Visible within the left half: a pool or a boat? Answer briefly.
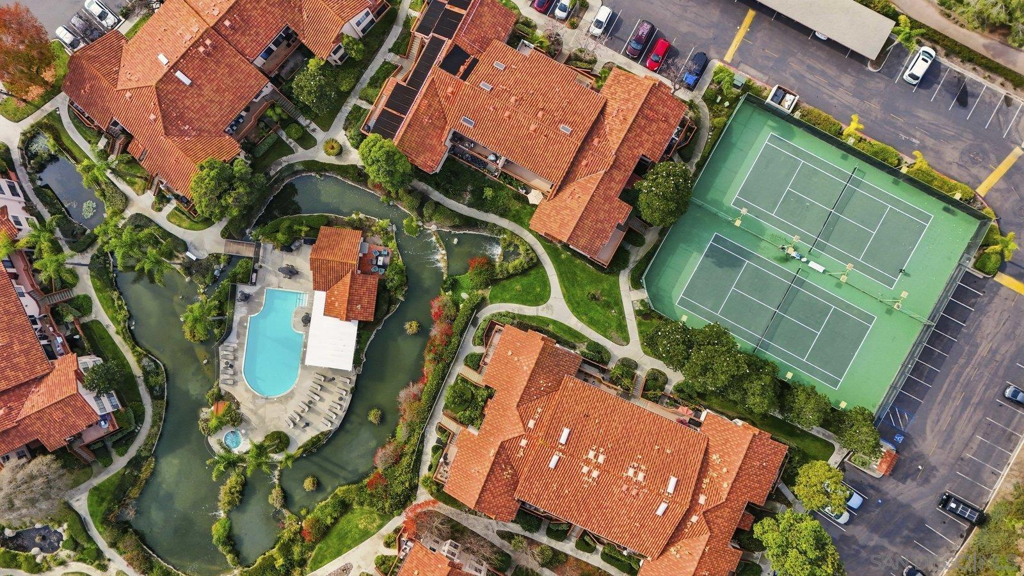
pool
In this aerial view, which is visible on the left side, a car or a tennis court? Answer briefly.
car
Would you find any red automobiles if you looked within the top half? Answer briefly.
Yes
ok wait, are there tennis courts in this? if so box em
[693,101,980,319]
[647,197,925,418]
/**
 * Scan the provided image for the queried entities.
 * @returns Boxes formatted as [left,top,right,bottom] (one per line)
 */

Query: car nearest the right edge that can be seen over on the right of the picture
[1000,384,1024,408]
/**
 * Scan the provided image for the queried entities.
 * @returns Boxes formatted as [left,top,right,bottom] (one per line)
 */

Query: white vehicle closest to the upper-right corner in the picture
[902,47,934,87]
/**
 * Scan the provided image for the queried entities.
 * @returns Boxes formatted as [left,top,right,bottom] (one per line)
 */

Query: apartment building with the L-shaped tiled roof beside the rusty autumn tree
[60,0,375,217]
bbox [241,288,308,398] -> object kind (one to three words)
swimming pool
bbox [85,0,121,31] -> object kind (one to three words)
car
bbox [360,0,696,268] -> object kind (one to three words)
building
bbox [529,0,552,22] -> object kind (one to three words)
car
